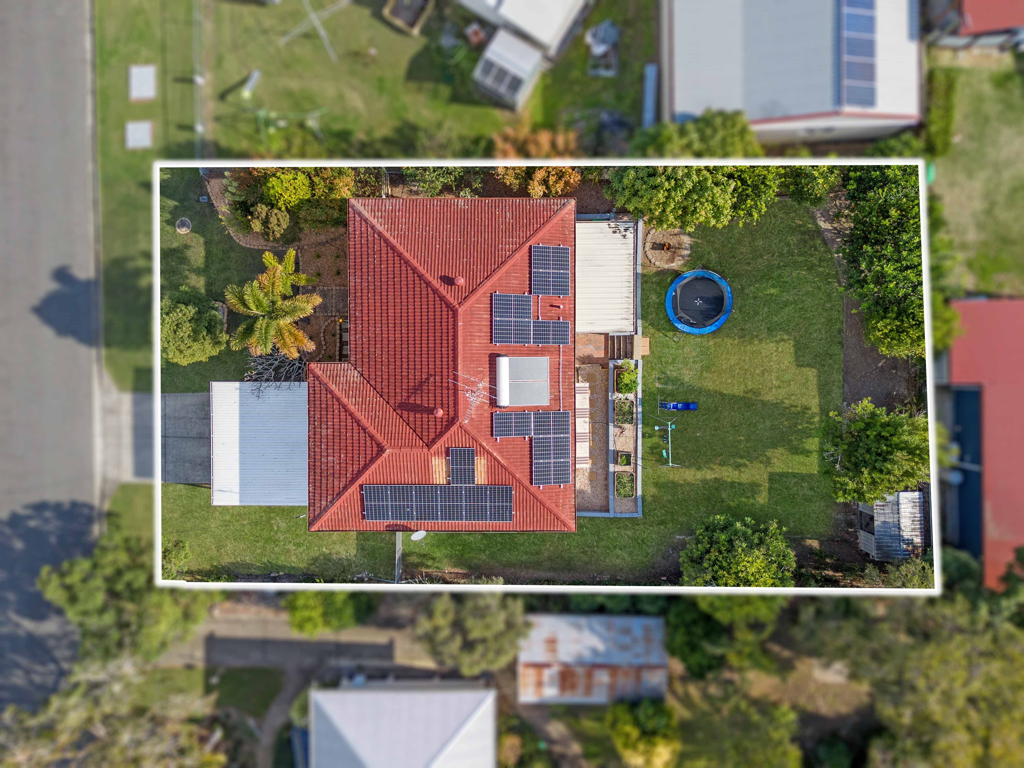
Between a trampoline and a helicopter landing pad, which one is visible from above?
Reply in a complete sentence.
The one in the frame is a trampoline.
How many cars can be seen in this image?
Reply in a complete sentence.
I count no cars.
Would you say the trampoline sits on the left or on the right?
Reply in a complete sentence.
You can find the trampoline on the right side of the picture.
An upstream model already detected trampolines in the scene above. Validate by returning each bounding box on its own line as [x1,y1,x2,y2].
[661,264,738,344]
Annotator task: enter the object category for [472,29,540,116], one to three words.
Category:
shed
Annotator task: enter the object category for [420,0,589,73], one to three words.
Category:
house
